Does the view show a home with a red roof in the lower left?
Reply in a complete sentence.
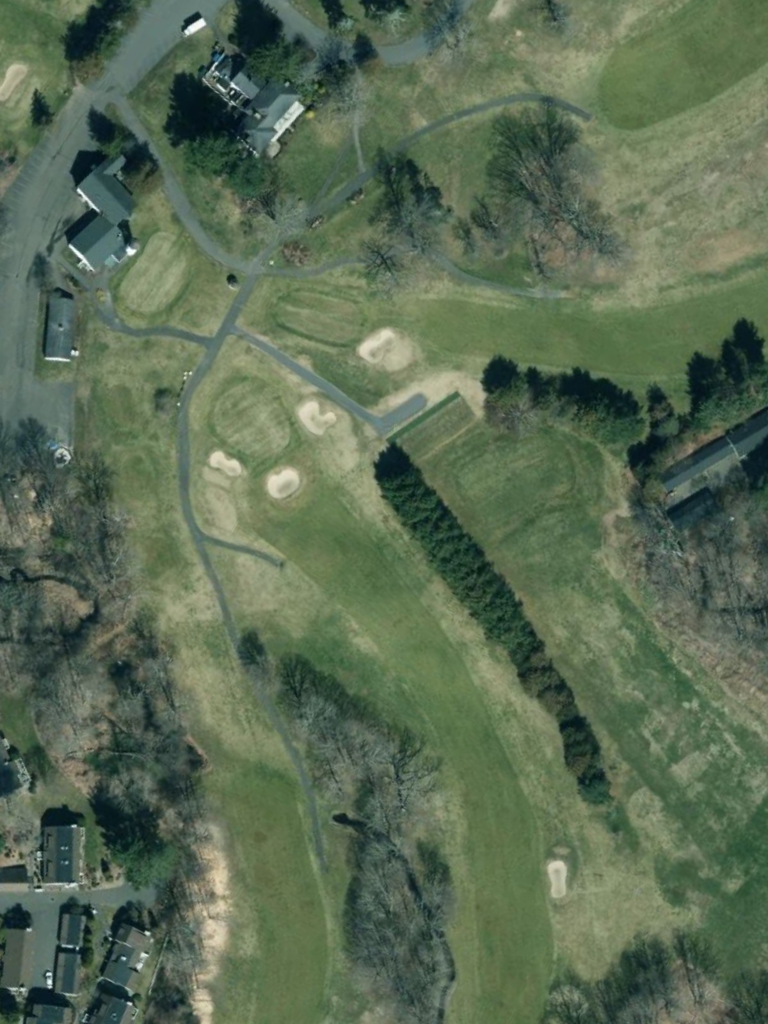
No, I can find no home with a red roof in the lower left.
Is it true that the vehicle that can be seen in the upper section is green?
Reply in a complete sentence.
No, the vehicle that can be seen in the upper section is white.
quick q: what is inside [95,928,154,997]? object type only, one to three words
house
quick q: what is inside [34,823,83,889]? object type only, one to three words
house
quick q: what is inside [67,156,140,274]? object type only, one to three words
building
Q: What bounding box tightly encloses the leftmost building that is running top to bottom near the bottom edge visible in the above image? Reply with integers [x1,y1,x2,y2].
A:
[1,928,34,1003]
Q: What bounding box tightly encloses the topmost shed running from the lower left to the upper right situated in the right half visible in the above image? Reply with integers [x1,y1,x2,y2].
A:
[662,405,768,494]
